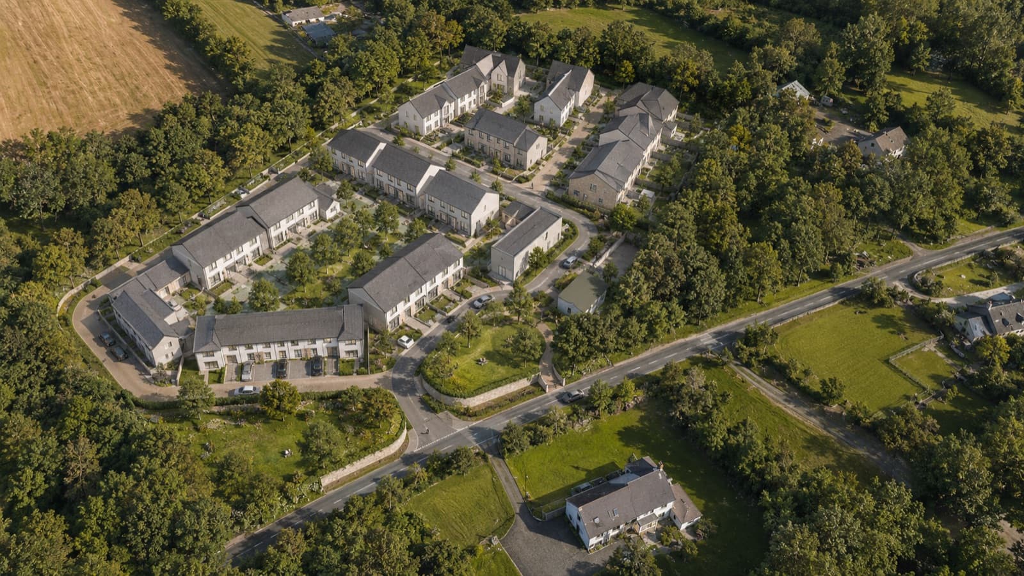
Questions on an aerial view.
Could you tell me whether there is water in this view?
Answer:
No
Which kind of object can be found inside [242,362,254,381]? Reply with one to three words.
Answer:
vehicle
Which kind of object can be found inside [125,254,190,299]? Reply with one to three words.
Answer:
shed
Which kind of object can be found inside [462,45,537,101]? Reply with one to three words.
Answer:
house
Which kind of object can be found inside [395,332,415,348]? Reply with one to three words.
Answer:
car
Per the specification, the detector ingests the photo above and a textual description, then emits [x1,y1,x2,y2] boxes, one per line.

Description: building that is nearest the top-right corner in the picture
[860,121,911,169]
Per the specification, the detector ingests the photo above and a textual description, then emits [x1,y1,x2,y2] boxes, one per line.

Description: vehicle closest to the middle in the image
[472,291,494,308]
